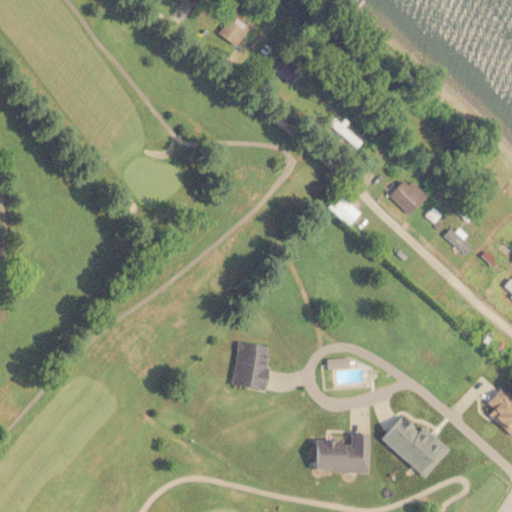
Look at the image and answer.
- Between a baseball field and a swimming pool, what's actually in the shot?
swimming pool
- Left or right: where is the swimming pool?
right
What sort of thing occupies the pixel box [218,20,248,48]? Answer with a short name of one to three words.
house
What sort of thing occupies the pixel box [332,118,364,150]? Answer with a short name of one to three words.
house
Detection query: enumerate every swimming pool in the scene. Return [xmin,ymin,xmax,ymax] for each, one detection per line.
[332,358,376,390]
